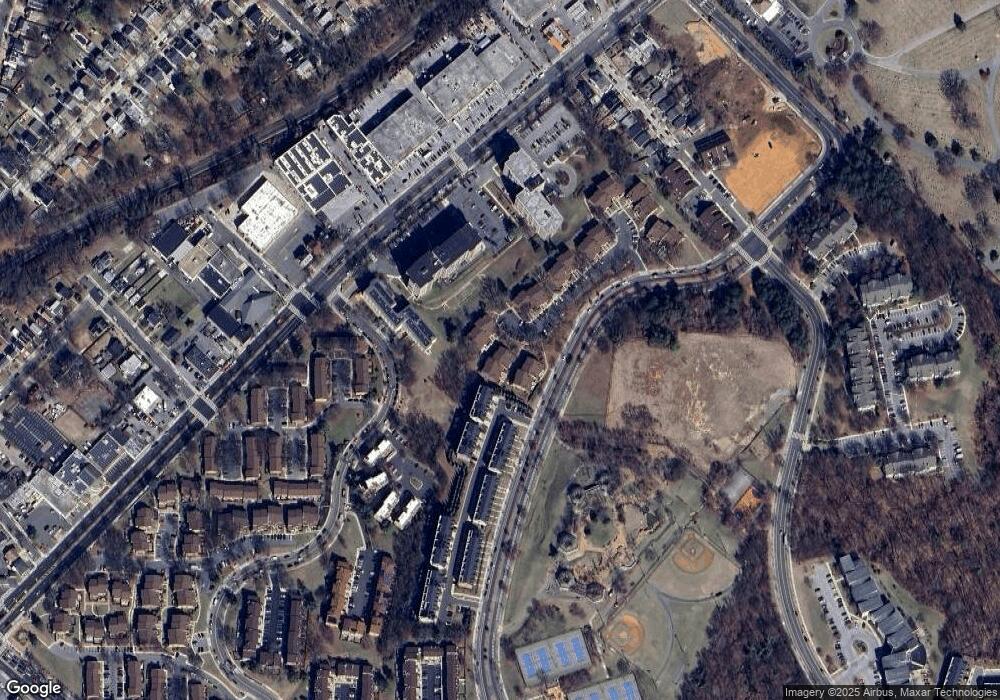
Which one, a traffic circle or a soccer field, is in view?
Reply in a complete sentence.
The one in the frame is a traffic circle.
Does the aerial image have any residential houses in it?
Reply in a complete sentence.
Yes, a residential house can be made out from above.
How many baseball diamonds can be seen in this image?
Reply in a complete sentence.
The count of baseball diamonds comes to 2.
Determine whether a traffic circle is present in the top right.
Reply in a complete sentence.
Yes, a traffic circle appears in the top right.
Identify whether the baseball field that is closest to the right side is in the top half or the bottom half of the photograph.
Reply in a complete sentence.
The baseball field that is closest to the right side sits in the bottom half of the picture.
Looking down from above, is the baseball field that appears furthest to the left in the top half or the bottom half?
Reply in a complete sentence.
You can find the baseball field that appears furthest to the left in the bottom half.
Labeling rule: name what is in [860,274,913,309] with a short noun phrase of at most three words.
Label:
building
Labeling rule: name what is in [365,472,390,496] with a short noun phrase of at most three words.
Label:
house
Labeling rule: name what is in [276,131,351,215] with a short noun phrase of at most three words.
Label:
building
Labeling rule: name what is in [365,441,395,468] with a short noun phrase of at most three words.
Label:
house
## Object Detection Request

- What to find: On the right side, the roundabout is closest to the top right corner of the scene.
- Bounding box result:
[808,20,860,69]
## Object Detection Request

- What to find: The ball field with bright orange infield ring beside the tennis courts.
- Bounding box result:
[598,587,674,687]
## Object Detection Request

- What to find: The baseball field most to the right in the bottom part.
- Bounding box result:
[642,523,740,599]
